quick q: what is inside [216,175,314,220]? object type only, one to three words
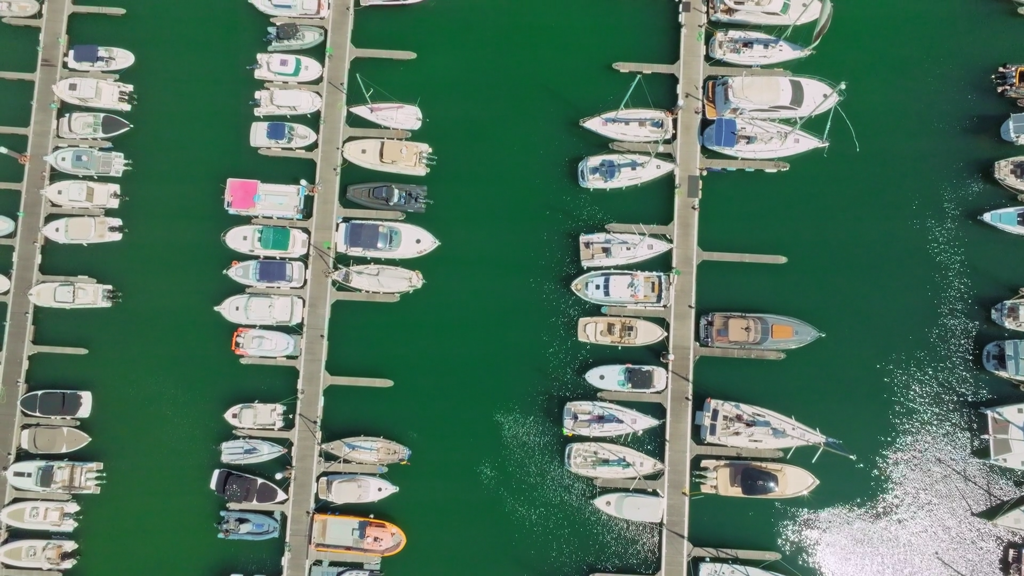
ship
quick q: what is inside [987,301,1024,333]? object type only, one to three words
boat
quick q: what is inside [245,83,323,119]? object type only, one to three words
boat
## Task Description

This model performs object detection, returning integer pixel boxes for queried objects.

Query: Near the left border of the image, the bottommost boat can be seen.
[0,539,90,568]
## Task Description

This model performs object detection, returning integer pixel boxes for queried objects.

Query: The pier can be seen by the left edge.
[0,0,129,576]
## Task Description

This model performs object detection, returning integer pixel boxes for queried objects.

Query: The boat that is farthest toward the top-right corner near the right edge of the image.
[988,67,1024,97]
